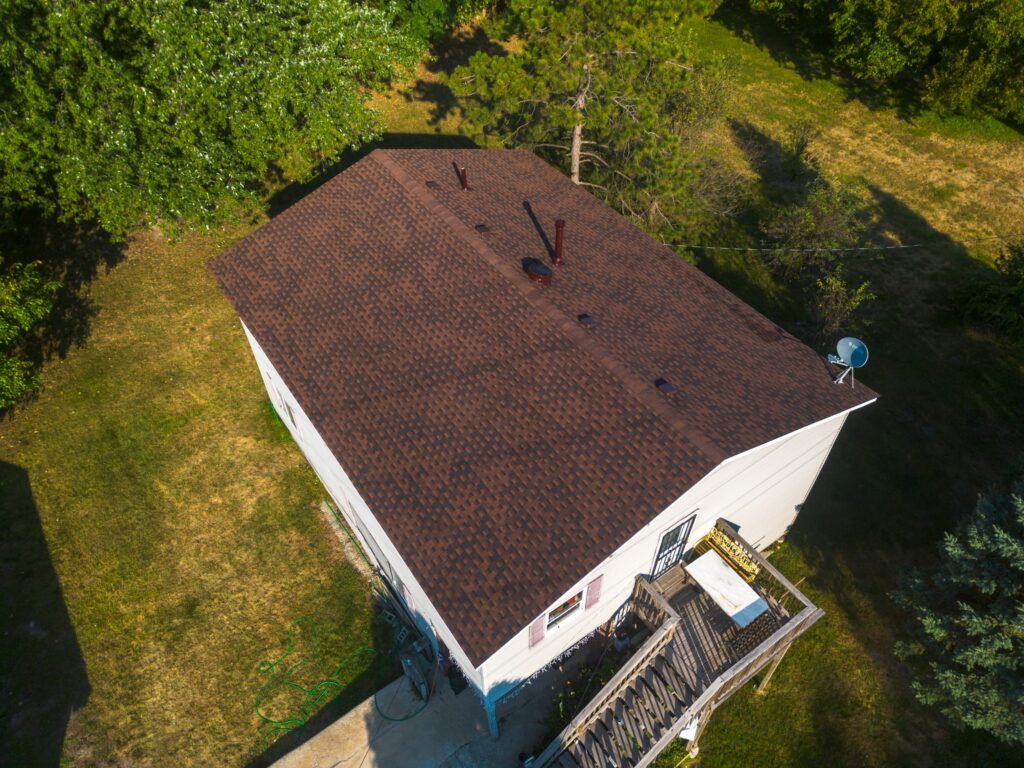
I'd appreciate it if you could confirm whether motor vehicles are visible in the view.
No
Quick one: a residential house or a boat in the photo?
residential house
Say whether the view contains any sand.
No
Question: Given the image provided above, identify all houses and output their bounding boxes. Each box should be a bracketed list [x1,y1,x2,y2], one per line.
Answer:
[209,148,876,742]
